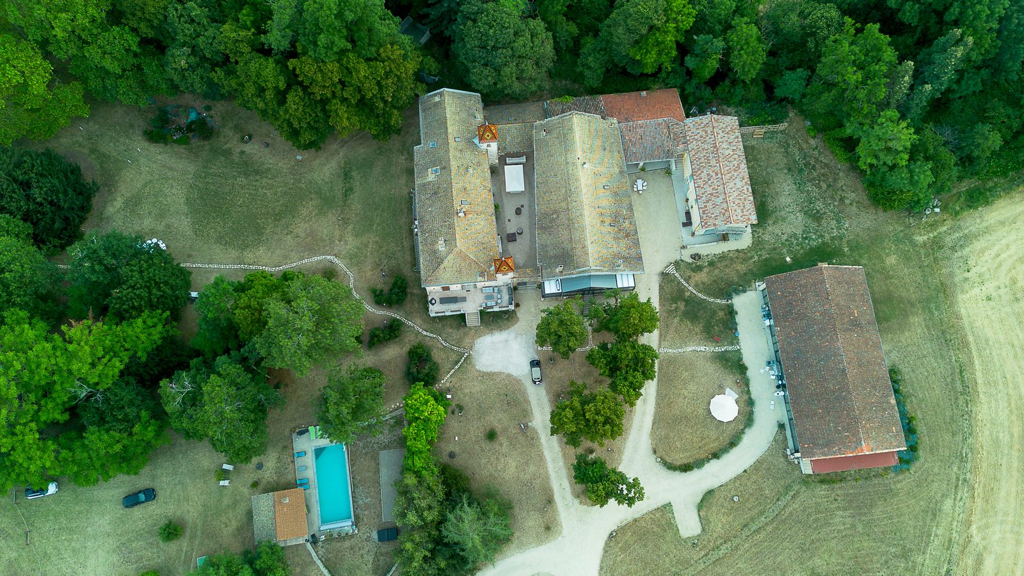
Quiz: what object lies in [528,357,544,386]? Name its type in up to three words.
car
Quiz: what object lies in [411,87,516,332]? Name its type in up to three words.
house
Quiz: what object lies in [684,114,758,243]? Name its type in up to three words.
house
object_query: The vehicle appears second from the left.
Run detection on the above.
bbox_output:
[118,488,156,508]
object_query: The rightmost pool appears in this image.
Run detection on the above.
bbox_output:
[310,440,357,535]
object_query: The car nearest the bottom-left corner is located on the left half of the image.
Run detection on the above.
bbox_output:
[20,482,57,500]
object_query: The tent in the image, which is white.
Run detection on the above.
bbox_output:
[703,384,741,428]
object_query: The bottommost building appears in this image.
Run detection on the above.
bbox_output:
[250,487,313,545]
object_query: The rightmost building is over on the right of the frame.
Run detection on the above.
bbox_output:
[760,263,907,475]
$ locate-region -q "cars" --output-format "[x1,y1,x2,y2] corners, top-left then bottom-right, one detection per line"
[20,482,57,500]
[528,357,544,386]
[118,488,156,508]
